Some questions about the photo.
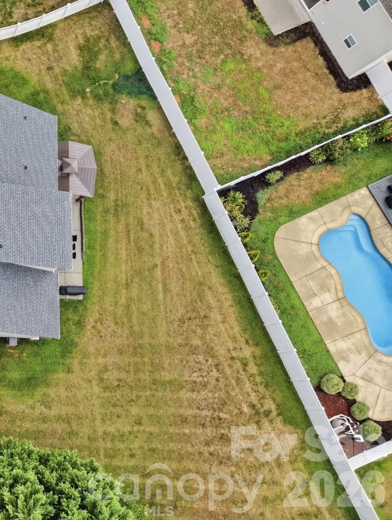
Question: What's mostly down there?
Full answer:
The bulk of the photo consists of grass.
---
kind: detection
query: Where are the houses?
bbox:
[0,95,75,339]
[301,0,392,79]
